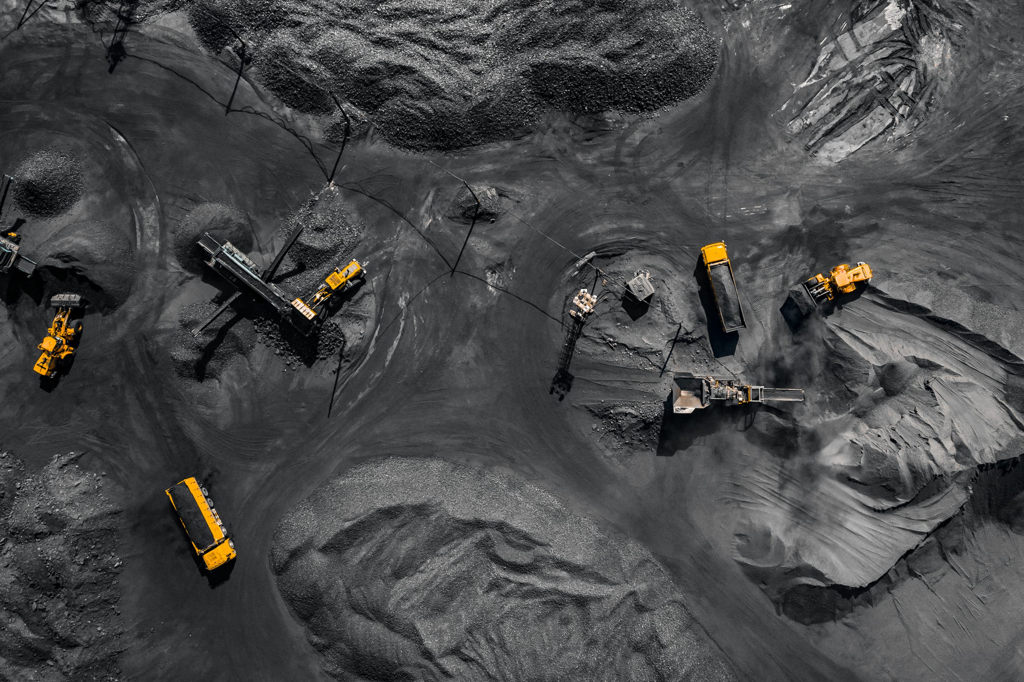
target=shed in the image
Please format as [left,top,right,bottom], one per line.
[626,266,657,304]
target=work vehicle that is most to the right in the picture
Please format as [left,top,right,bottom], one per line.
[789,260,872,319]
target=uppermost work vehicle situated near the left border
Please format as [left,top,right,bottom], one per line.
[32,299,89,380]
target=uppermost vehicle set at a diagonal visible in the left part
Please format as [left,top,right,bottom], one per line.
[296,258,368,318]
